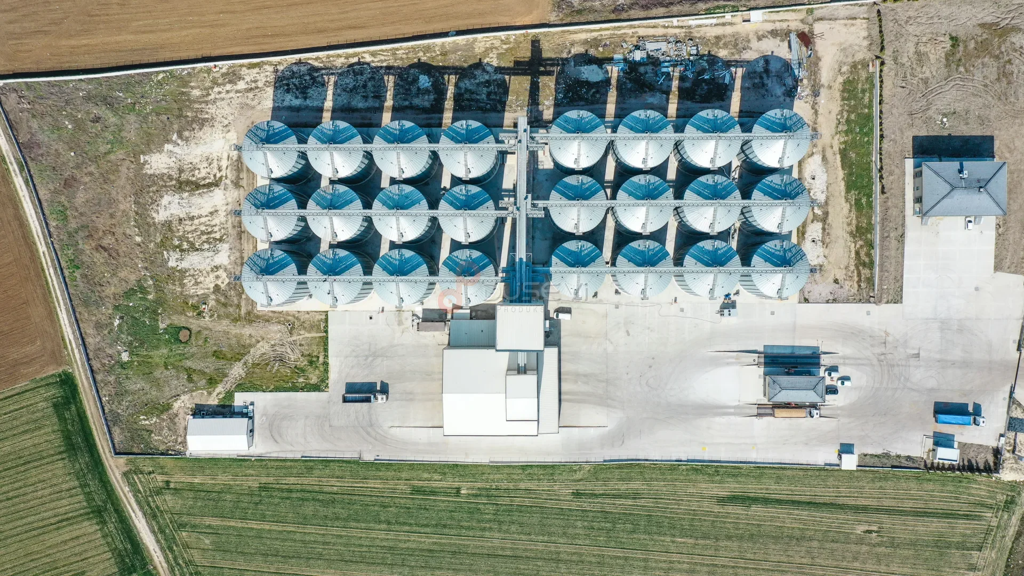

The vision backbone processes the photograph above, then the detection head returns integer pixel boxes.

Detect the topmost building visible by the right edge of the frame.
[913,161,1007,225]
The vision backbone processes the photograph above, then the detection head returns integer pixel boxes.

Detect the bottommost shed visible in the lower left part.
[184,417,253,451]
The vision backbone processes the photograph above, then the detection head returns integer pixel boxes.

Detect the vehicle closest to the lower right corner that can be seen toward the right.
[936,412,987,425]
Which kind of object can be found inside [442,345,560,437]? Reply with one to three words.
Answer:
building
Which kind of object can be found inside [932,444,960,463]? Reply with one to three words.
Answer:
house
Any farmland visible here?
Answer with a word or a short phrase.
Yes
